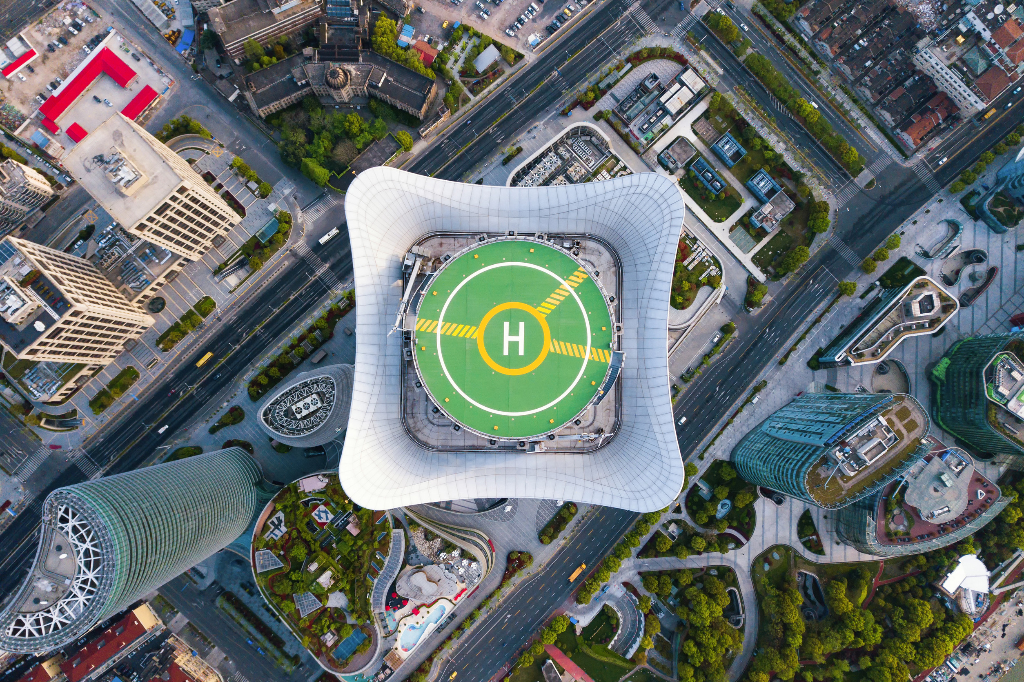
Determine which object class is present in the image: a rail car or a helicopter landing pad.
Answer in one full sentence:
The one in the frame is a helicopter landing pad.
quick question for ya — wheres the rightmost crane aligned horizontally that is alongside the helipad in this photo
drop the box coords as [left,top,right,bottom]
[526,428,613,450]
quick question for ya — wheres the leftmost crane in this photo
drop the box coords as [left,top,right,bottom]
[387,246,434,337]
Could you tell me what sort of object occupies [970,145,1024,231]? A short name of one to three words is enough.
building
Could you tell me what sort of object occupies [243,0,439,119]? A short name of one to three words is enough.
building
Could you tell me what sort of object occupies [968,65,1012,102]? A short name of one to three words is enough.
house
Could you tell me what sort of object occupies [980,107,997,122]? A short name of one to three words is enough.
vehicle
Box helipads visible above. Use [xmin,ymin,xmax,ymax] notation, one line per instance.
[414,240,613,437]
